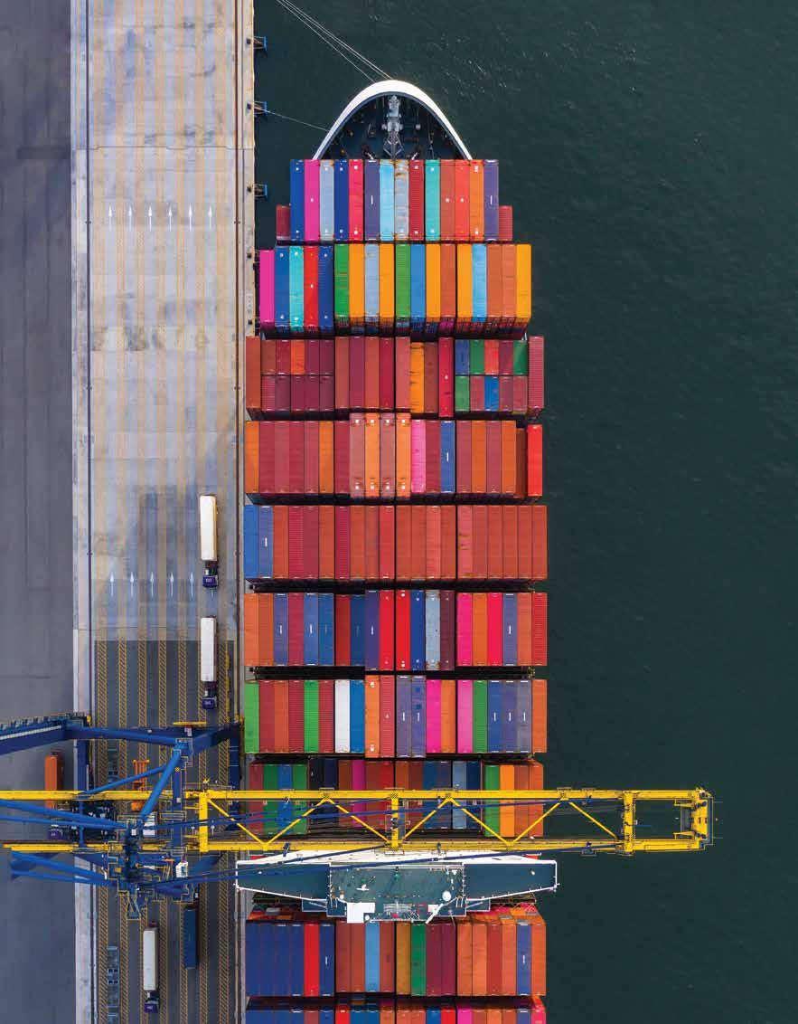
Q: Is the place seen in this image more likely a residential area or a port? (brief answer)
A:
port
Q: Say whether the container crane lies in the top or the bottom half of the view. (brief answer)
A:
bottom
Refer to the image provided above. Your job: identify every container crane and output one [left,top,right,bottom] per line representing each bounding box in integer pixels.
[0,700,717,917]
